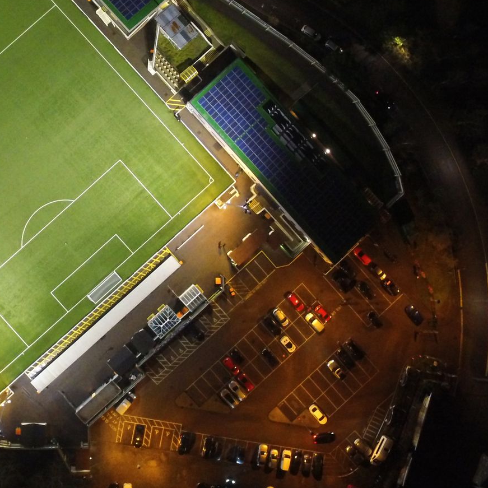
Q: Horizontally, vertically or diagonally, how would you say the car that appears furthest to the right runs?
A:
diagonally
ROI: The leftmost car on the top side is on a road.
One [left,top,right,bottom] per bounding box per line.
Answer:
[300,25,322,43]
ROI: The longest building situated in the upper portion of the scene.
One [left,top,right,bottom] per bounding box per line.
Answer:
[184,57,380,265]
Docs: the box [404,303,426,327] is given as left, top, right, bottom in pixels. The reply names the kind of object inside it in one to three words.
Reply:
car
